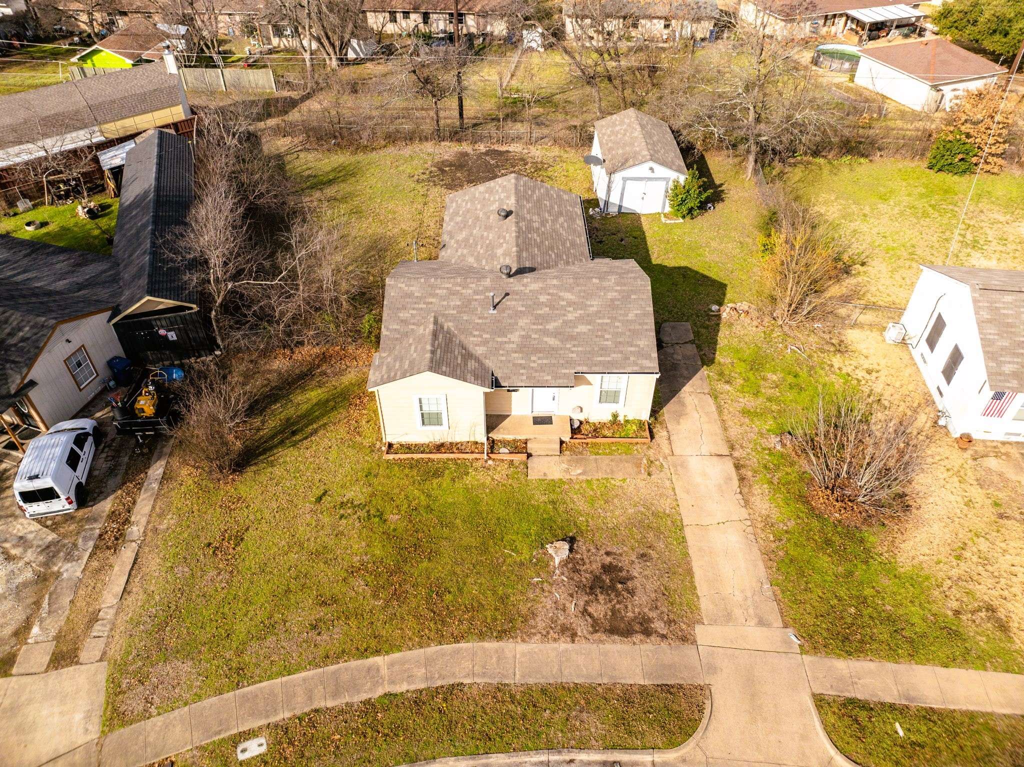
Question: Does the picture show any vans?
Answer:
Yes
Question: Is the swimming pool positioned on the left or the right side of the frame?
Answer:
right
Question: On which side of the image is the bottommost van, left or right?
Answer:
left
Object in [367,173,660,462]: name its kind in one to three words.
house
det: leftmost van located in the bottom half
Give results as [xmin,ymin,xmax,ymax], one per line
[13,418,105,519]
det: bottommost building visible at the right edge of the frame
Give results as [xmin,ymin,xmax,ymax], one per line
[895,262,1024,444]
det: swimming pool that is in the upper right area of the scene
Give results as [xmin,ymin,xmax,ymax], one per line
[806,42,869,82]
